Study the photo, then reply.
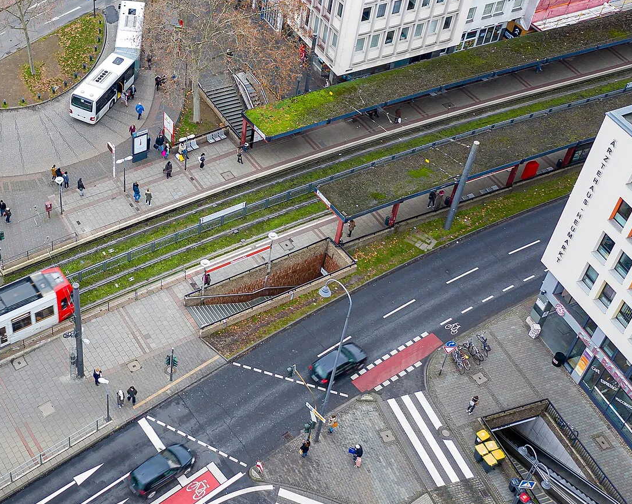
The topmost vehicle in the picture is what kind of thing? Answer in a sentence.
The topmost vehicle in the image is a bus.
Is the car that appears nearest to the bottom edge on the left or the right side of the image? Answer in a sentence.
You can find the car that appears nearest to the bottom edge on the left side of the picture.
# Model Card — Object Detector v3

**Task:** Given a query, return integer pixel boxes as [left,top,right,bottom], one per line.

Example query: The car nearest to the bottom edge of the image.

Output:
[125,446,204,504]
